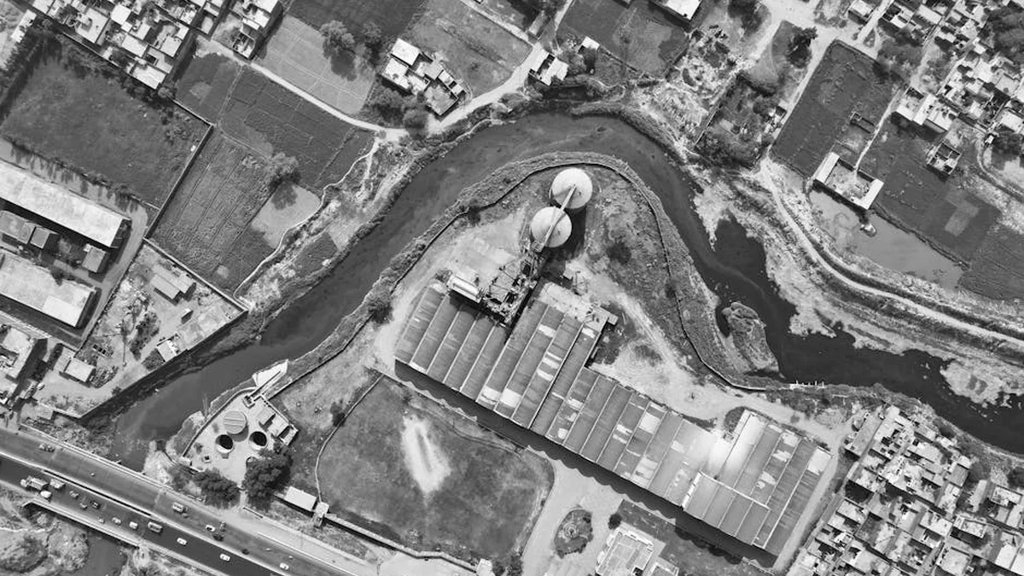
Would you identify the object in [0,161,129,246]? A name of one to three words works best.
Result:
building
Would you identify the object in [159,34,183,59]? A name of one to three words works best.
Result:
house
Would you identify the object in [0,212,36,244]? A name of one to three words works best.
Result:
shed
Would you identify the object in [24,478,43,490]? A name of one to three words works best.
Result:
vehicle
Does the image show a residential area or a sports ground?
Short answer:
residential area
